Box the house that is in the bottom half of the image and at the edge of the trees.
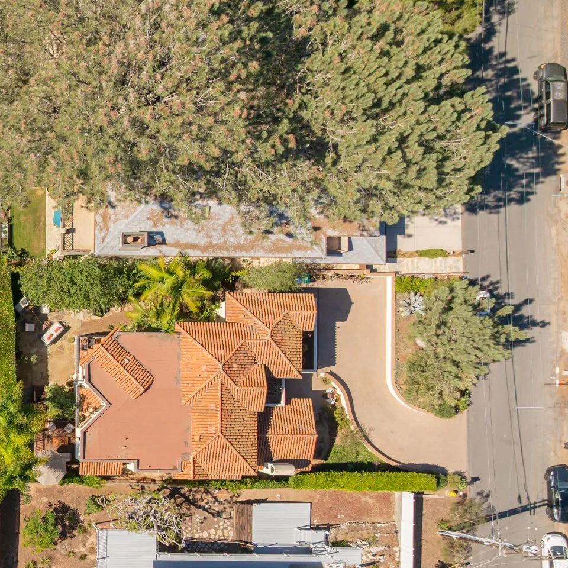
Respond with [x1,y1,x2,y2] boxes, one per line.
[75,292,317,482]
